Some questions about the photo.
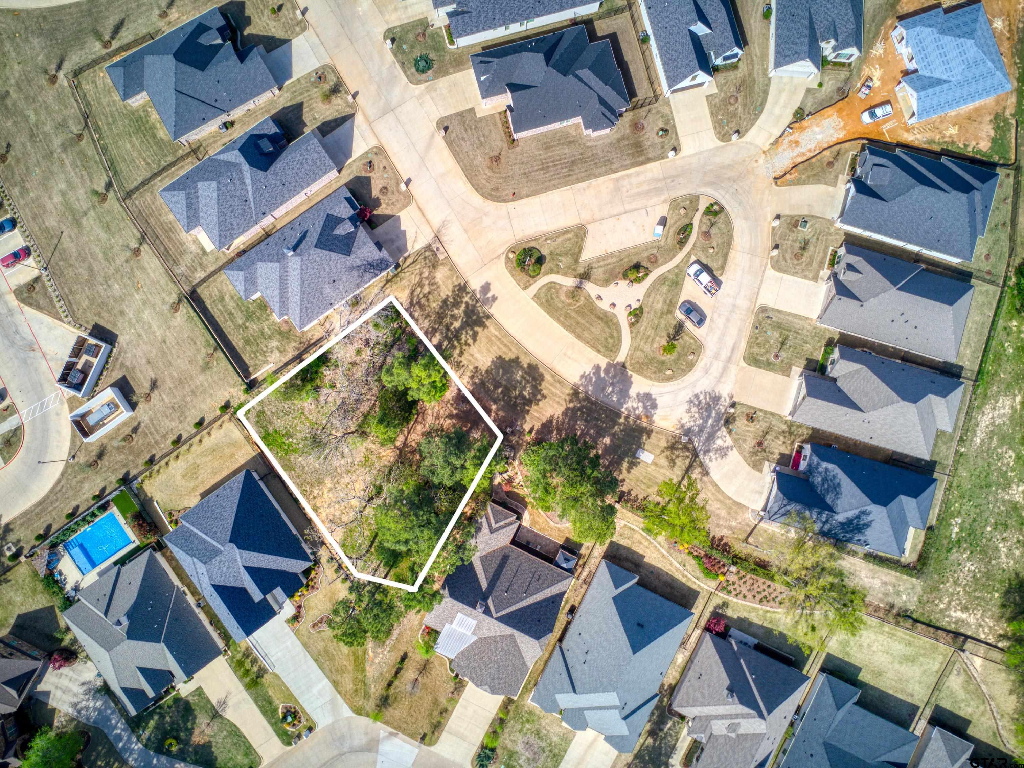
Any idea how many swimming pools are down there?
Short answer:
one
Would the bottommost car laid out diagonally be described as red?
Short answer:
No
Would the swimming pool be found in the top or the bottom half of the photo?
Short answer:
bottom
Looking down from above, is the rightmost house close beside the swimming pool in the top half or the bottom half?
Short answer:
bottom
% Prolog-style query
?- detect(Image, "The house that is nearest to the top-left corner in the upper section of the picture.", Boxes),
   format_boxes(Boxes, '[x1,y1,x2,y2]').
[105,6,283,147]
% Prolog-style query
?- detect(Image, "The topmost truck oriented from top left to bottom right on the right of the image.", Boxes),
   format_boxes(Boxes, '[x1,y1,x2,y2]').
[686,259,724,299]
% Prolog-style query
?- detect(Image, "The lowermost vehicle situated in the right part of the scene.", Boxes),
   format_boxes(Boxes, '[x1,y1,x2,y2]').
[677,298,710,331]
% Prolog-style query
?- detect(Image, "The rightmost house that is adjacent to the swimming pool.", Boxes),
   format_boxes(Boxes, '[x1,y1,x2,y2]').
[163,468,317,643]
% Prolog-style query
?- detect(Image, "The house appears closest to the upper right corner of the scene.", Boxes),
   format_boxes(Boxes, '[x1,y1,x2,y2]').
[887,2,1012,128]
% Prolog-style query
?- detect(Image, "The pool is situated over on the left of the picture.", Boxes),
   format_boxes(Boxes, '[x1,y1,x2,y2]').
[62,510,133,577]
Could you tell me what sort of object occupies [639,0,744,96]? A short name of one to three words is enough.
house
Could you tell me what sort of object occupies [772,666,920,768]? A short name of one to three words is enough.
house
